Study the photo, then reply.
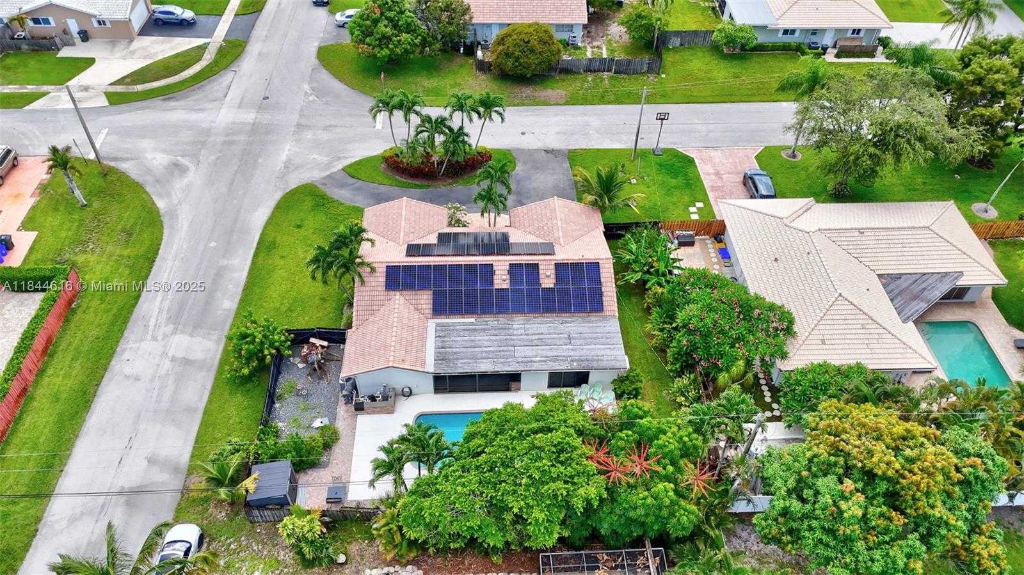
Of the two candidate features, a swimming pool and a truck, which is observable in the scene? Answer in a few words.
swimming pool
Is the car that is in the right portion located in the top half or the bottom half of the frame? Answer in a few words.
top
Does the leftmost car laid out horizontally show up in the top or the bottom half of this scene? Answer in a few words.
top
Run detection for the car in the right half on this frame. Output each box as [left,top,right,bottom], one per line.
[737,169,775,199]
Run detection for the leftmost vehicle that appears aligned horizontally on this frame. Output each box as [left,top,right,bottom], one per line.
[149,4,198,26]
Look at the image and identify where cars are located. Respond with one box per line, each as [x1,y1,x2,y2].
[140,523,202,575]
[149,4,198,26]
[336,7,378,27]
[0,147,19,183]
[737,169,775,199]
